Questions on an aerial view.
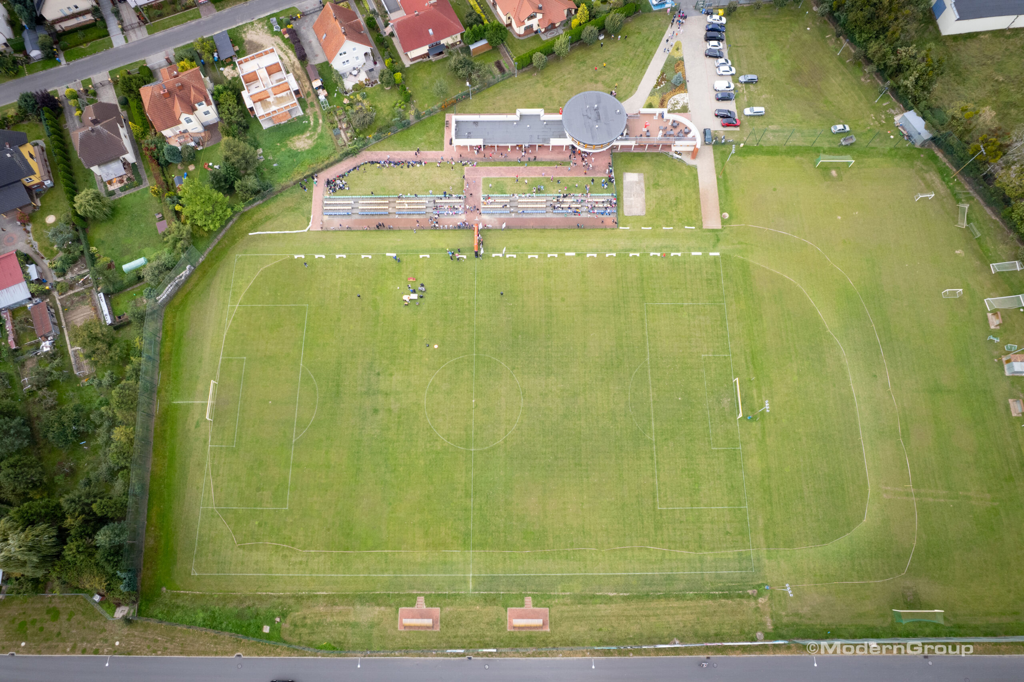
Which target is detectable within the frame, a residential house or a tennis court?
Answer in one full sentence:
The one in the frame is a residential house.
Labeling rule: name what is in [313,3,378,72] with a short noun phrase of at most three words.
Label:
house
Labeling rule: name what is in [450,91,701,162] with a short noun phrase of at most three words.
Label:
building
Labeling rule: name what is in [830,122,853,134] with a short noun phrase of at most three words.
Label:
vehicle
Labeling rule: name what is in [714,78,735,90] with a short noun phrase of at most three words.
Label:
vehicle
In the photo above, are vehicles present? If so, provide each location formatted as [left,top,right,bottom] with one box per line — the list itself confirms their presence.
[713,56,734,66]
[706,38,725,49]
[714,90,736,101]
[717,64,737,75]
[830,122,853,134]
[704,28,726,40]
[715,106,736,117]
[738,72,760,83]
[744,105,767,116]
[706,21,726,31]
[705,47,724,57]
[707,13,728,23]
[714,78,735,90]
[721,116,742,127]
[650,0,669,6]
[703,126,715,145]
